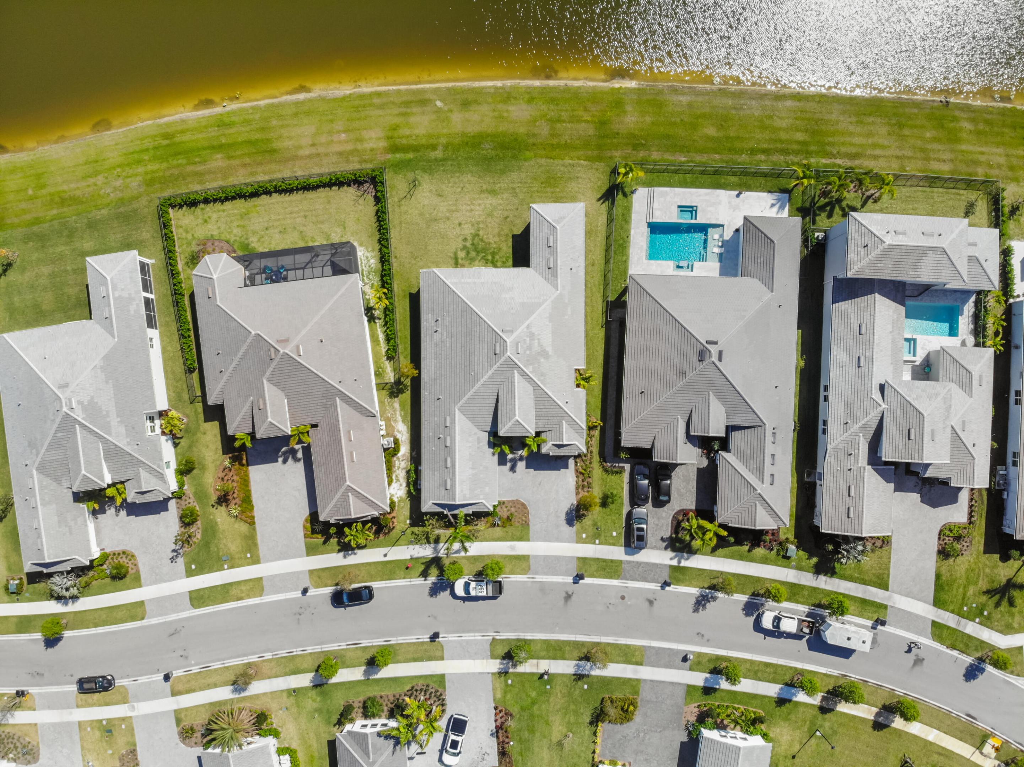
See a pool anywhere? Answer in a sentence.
Yes, there's a pool here.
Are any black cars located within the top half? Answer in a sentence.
No, there is no black car within the top half.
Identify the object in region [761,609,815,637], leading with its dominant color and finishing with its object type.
white truck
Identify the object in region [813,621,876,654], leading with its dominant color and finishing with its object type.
white trailer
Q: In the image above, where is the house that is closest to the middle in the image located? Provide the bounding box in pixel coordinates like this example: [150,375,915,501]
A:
[421,202,587,514]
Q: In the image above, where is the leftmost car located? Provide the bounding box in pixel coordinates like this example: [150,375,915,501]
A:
[75,672,117,695]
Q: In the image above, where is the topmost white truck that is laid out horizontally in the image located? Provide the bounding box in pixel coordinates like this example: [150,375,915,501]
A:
[454,577,504,598]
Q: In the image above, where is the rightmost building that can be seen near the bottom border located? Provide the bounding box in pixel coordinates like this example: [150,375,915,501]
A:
[693,728,772,767]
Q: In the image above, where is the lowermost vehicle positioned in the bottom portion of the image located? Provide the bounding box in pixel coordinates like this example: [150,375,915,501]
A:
[441,711,469,766]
